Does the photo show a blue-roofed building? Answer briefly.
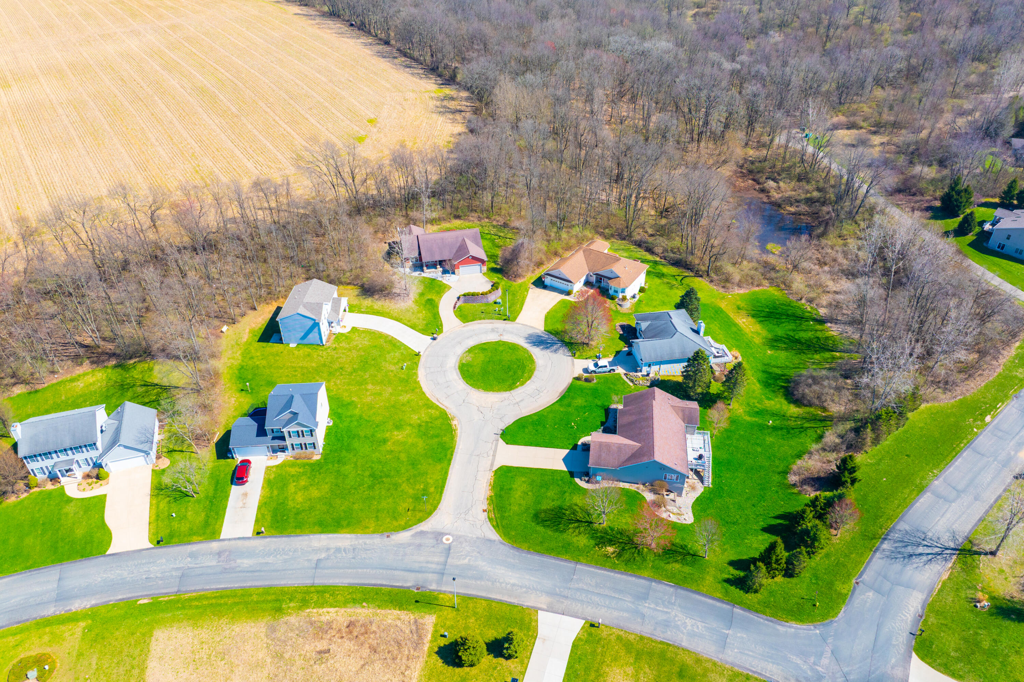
Yes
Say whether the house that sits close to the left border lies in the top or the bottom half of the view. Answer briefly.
bottom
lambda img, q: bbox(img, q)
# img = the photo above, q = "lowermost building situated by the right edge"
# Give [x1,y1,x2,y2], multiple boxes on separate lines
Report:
[978,207,1024,260]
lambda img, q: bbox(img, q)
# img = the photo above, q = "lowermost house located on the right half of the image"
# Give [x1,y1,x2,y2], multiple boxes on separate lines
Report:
[589,387,712,495]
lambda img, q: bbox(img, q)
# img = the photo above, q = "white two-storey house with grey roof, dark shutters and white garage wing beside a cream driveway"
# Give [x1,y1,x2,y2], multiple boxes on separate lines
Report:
[10,401,159,486]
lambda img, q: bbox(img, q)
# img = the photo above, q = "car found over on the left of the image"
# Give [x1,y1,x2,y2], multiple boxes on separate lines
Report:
[233,459,250,484]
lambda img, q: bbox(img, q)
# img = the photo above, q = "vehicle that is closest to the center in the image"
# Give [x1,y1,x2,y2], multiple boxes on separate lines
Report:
[586,359,620,374]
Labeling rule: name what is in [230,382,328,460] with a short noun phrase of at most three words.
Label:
house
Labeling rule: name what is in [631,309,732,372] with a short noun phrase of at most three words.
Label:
house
